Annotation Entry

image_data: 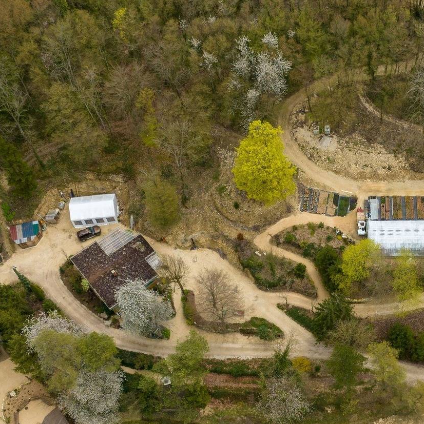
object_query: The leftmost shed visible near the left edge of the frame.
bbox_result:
[9,221,43,250]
